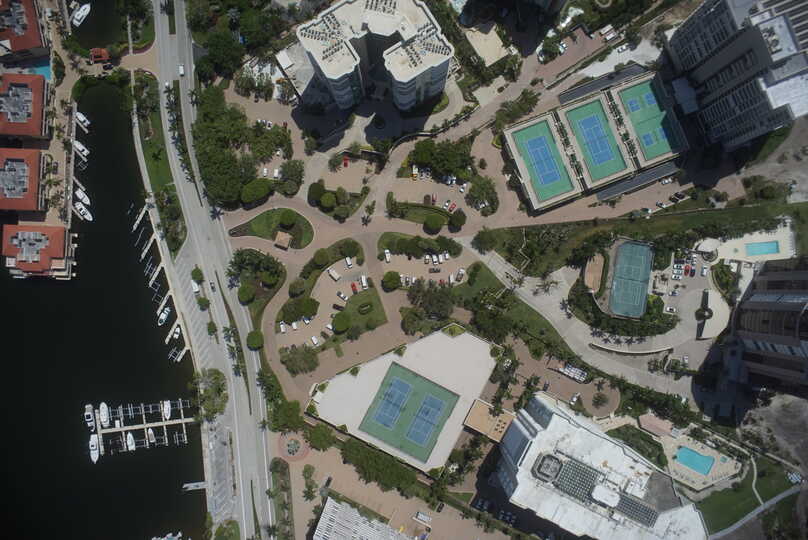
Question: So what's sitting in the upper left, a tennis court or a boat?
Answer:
boat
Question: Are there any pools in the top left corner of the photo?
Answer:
Yes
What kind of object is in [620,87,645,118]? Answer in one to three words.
sports court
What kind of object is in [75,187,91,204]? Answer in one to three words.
boat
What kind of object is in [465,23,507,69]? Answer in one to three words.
building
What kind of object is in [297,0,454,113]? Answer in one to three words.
building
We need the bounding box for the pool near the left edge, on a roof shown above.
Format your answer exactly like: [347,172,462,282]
[0,60,53,81]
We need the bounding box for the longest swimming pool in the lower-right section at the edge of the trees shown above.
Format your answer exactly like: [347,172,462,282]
[608,418,741,488]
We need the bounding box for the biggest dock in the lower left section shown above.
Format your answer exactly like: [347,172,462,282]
[94,398,197,456]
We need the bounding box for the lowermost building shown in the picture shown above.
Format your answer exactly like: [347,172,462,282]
[313,493,423,540]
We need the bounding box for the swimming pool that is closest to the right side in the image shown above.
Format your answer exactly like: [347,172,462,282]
[705,214,796,264]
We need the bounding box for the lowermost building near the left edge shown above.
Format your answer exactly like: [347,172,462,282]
[2,223,77,279]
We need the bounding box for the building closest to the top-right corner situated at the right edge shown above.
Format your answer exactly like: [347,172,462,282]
[667,0,808,148]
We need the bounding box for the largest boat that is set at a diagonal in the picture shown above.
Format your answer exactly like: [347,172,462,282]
[73,3,91,28]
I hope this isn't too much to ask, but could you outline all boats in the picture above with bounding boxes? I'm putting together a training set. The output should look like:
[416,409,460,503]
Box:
[77,114,92,127]
[164,399,171,419]
[73,3,91,28]
[153,533,182,540]
[89,433,99,463]
[128,433,136,452]
[85,403,95,429]
[159,306,171,324]
[76,141,91,155]
[99,403,109,429]
[149,428,155,443]
[75,201,93,219]
[75,187,91,204]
